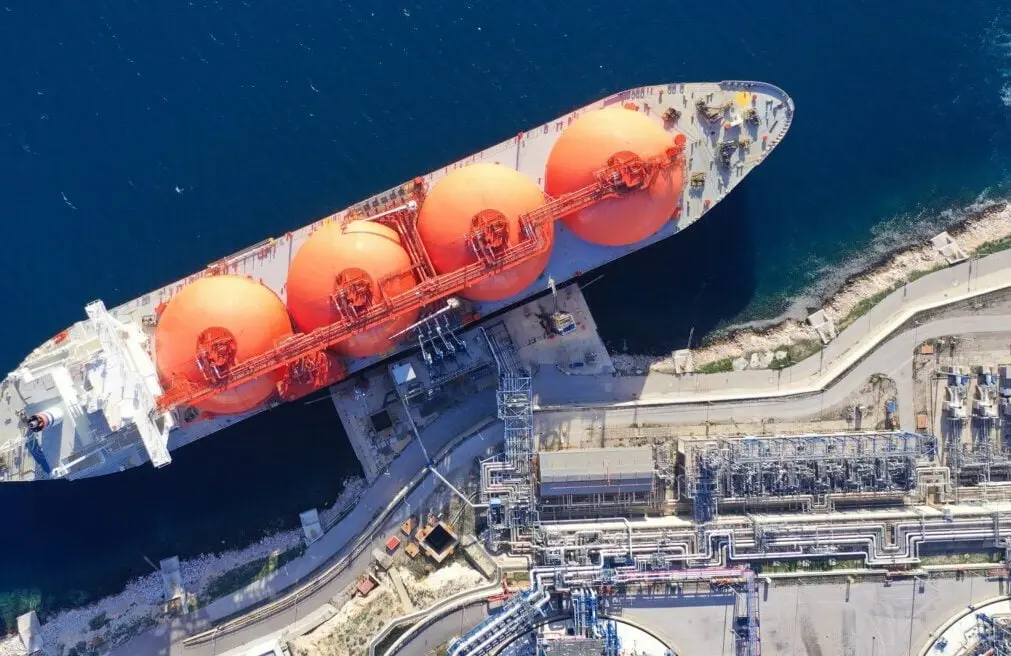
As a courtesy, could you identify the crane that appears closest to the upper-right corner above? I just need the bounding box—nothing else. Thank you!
[550,279,573,335]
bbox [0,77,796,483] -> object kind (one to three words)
ship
